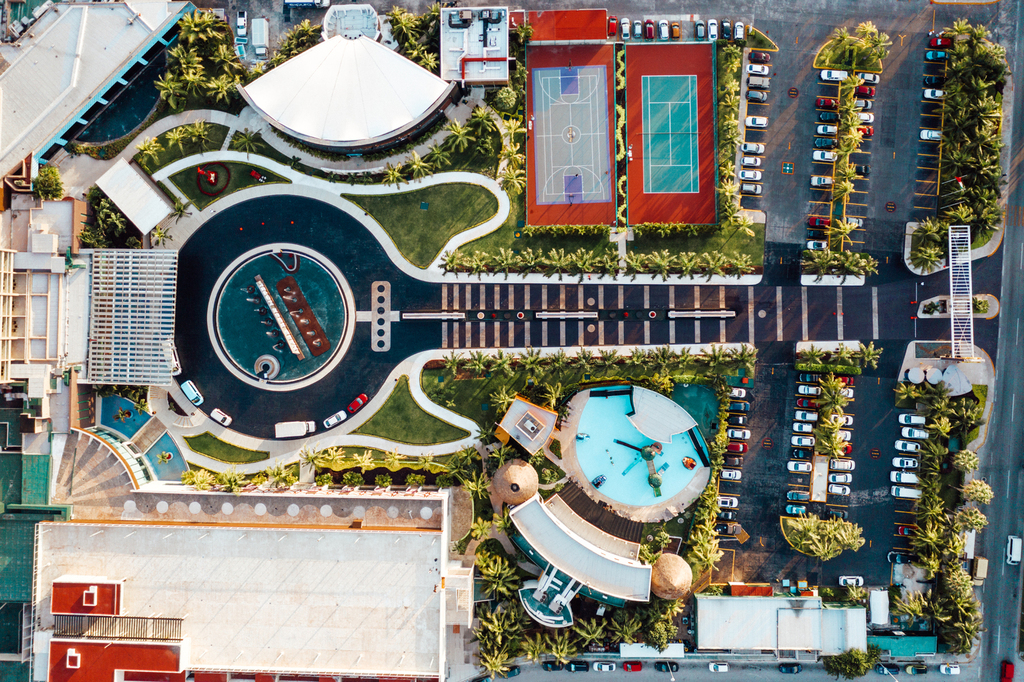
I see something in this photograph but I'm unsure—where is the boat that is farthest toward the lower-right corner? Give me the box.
[681,455,696,469]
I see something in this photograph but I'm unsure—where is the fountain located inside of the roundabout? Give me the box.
[207,242,356,391]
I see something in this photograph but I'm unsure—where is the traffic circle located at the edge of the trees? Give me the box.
[132,194,444,440]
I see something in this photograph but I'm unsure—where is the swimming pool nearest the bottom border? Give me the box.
[561,385,711,522]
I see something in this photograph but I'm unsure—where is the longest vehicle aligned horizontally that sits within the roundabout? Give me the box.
[275,420,320,438]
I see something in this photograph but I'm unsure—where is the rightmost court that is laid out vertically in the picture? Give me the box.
[627,45,716,223]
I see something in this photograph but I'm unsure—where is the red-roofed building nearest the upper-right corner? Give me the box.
[528,9,607,46]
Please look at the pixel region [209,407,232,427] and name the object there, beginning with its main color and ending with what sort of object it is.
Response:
white car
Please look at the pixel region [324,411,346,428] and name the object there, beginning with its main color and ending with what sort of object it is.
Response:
white car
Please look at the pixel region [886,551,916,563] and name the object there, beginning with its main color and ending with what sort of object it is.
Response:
black vehicle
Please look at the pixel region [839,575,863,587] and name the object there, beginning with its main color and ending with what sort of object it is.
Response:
white vehicle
